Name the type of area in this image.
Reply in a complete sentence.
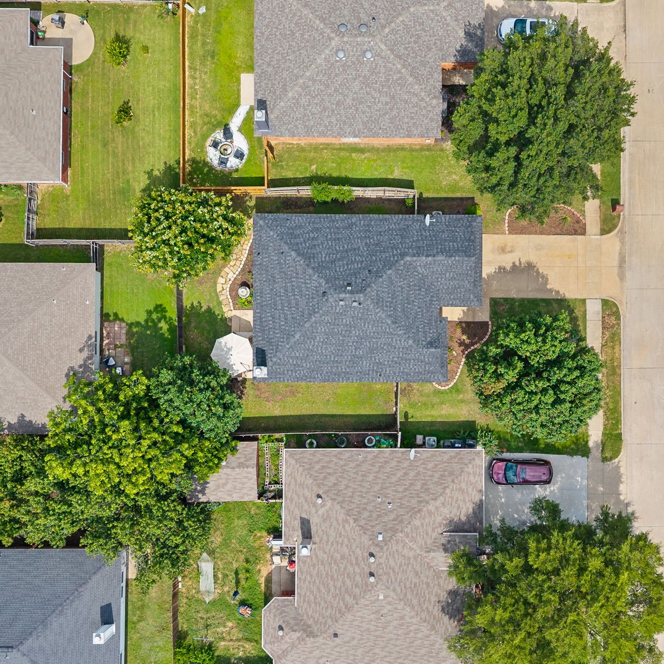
This image shows a residential area.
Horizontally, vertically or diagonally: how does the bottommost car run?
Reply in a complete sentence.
What the image shows is the bottommost car lying horizontally.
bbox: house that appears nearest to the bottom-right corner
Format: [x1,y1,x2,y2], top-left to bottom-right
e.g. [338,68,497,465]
[260,447,486,664]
